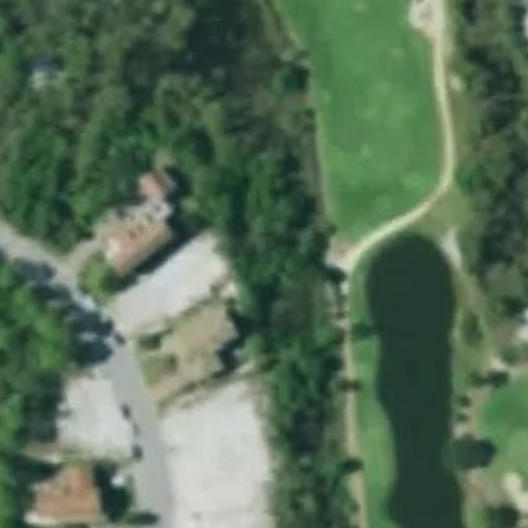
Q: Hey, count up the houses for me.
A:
3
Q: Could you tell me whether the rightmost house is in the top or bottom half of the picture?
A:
bottom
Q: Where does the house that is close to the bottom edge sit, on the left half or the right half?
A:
left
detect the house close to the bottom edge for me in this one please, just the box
[25,464,99,526]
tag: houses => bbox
[99,193,170,268]
[163,308,240,386]
[25,464,99,526]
